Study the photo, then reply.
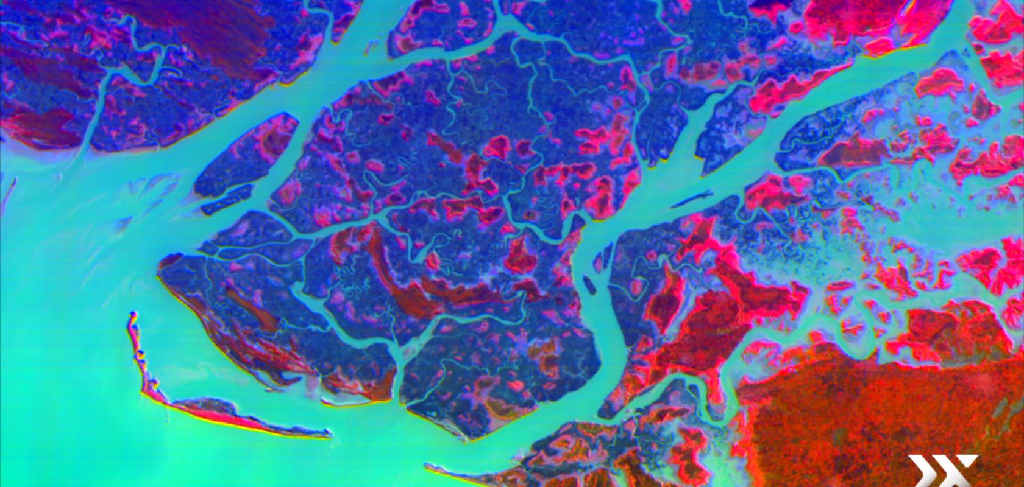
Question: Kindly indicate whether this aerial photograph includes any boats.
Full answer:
No, there appears to be no boat in this shot.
